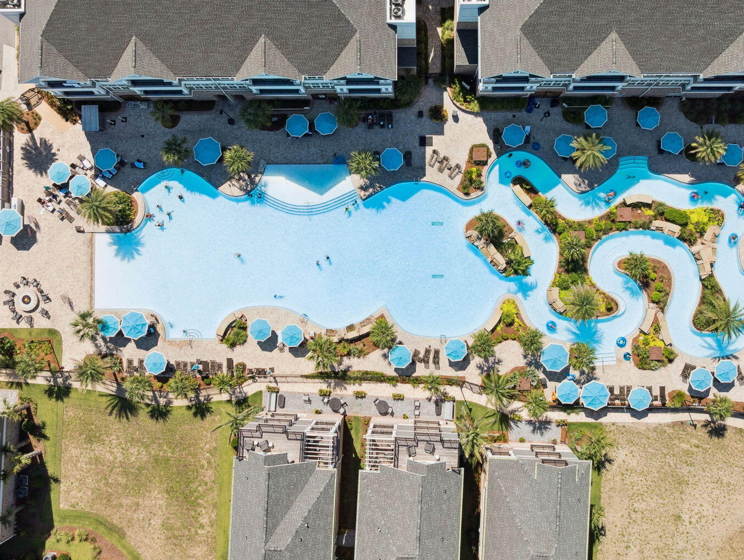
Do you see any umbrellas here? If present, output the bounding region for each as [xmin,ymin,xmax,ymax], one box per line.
[48,162,71,184]
[249,317,274,341]
[502,124,525,147]
[689,366,712,389]
[120,310,149,340]
[556,380,579,403]
[143,351,167,374]
[314,112,337,135]
[660,132,684,155]
[636,108,658,130]
[100,314,120,337]
[719,143,743,167]
[713,359,736,382]
[379,149,402,171]
[192,136,222,166]
[584,106,607,129]
[0,208,25,238]
[68,175,91,197]
[388,344,412,369]
[628,386,651,409]
[280,325,304,348]
[95,149,116,171]
[580,380,610,409]
[444,338,467,362]
[541,343,569,372]
[286,113,310,138]
[596,138,618,161]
